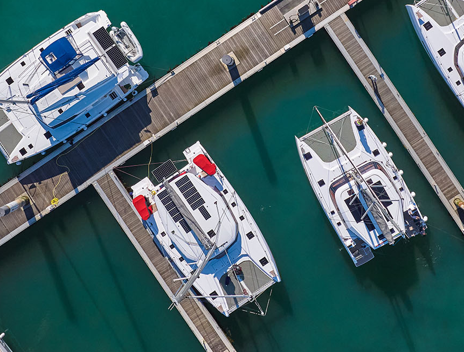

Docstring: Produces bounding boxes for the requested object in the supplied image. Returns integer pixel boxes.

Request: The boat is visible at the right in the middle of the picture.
[294,105,425,266]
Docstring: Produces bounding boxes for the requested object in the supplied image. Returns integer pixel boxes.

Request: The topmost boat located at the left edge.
[0,11,152,163]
